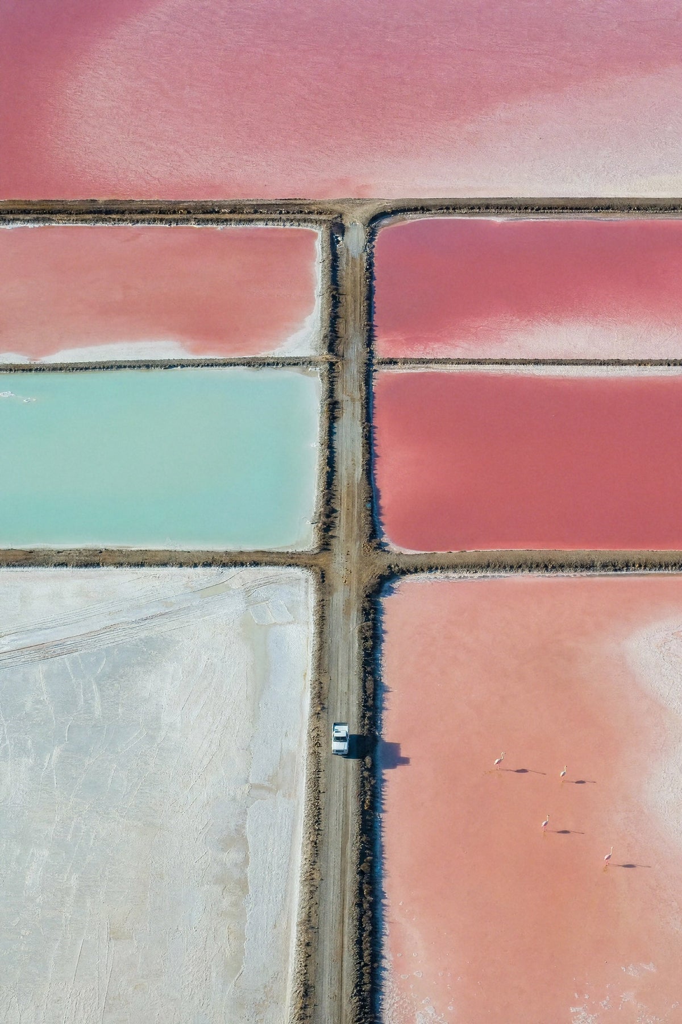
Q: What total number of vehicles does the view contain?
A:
1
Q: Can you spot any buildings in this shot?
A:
No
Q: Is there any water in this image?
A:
Yes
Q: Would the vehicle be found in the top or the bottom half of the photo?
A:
bottom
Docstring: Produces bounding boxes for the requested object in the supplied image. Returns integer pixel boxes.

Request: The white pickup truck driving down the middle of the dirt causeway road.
[330,724,350,758]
